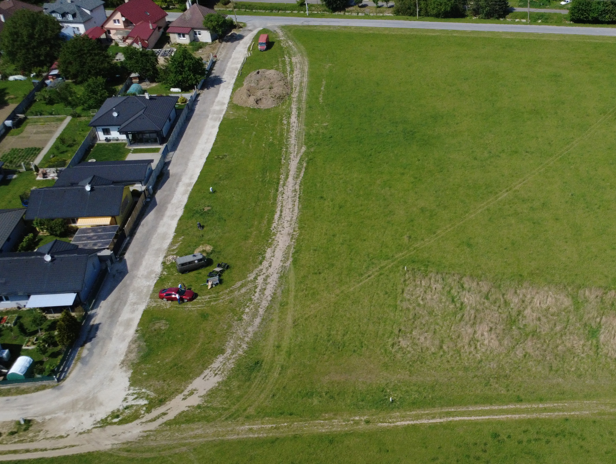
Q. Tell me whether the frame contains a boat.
No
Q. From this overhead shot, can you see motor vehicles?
Yes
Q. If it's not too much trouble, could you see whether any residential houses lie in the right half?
No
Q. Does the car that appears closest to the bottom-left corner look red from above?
Yes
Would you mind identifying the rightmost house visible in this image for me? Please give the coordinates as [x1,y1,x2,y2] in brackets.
[165,0,232,40]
